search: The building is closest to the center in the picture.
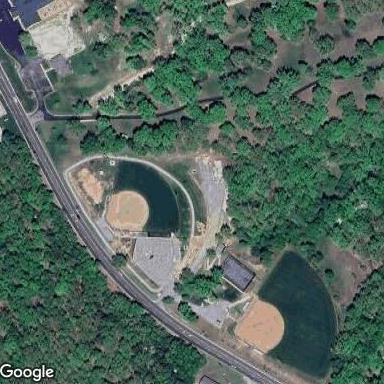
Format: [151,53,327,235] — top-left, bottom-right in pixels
[220,257,256,291]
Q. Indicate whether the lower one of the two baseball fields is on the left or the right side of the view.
right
